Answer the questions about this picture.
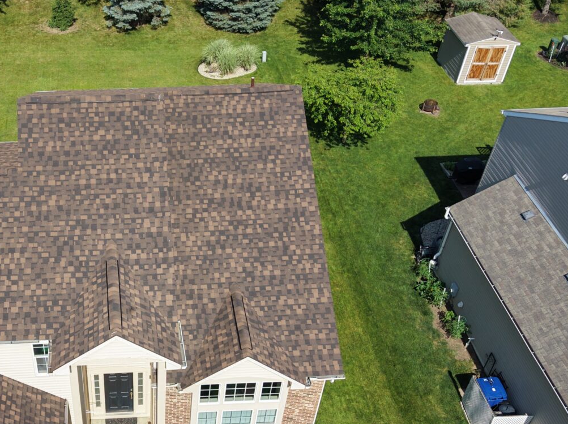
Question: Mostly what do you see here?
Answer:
buildings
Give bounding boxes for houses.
[438,106,568,424]
[0,67,346,424]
